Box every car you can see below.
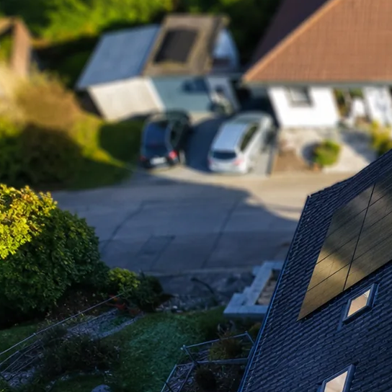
[208,100,282,170]
[146,101,212,160]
